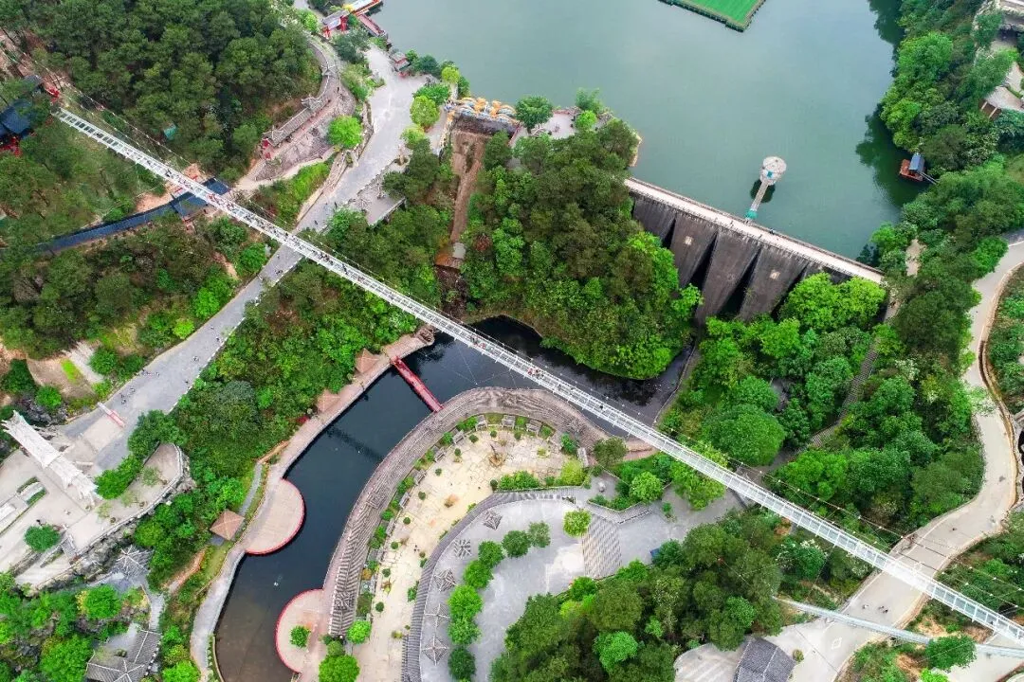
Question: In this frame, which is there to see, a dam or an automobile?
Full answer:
Looking from above, you can make out a dam.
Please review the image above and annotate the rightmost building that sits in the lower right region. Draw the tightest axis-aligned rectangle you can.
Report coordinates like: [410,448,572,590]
[726,631,799,682]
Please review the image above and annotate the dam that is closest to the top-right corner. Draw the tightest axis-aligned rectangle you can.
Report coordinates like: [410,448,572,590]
[629,174,906,336]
